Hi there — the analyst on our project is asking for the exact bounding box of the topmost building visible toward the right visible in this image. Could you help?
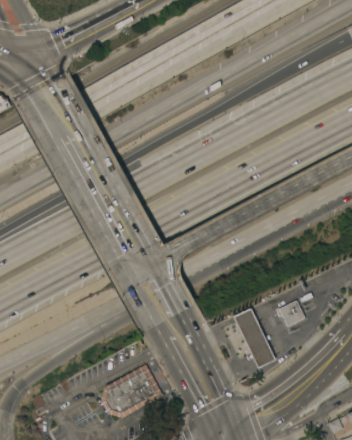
[276,300,306,326]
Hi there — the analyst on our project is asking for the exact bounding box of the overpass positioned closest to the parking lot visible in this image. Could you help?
[9,69,209,334]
